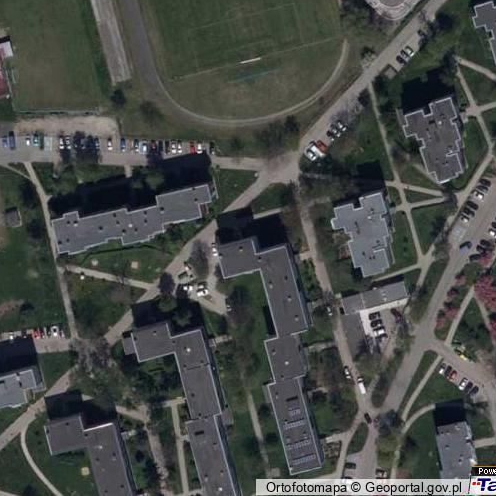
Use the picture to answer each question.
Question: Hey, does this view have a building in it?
Yes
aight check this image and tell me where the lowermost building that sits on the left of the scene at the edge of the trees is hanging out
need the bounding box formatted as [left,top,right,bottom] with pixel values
[45,413,141,496]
